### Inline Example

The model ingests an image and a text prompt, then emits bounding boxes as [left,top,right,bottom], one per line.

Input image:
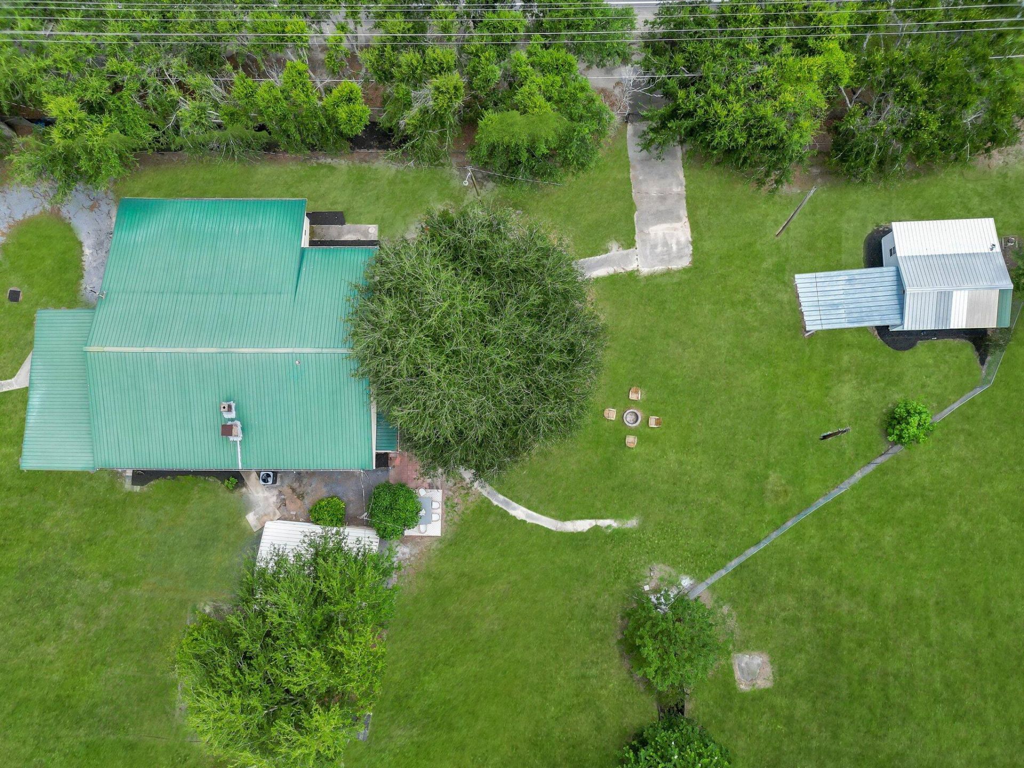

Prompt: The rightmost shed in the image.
[882,218,1014,330]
